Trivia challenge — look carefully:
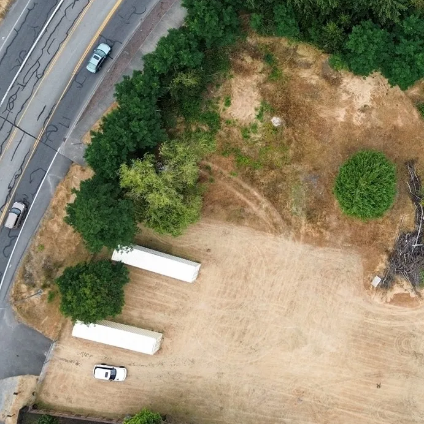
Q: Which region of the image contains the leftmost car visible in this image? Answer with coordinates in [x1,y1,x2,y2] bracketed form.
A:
[3,201,27,230]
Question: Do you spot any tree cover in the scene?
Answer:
Yes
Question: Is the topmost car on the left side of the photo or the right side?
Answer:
left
